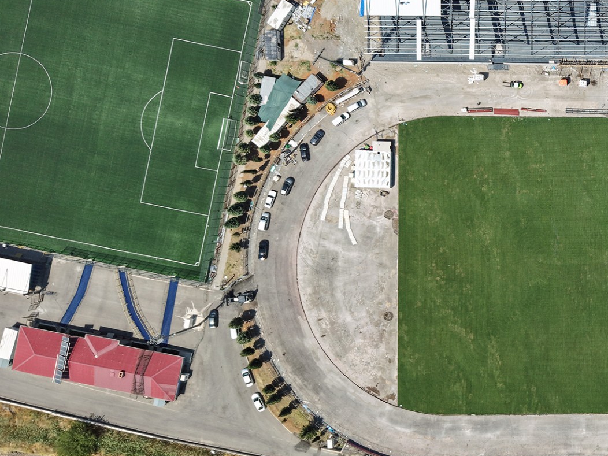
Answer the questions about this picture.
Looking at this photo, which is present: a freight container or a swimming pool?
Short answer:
freight container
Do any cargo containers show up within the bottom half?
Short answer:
No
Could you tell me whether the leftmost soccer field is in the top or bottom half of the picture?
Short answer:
top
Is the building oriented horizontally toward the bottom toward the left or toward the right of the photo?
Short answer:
left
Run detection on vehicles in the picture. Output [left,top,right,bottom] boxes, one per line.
[259,211,271,231]
[231,328,238,339]
[243,367,255,386]
[264,190,279,209]
[310,129,325,147]
[332,113,351,127]
[335,83,365,105]
[225,292,256,304]
[260,240,270,260]
[347,99,366,113]
[253,392,267,412]
[209,309,220,328]
[300,143,311,162]
[281,177,295,196]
